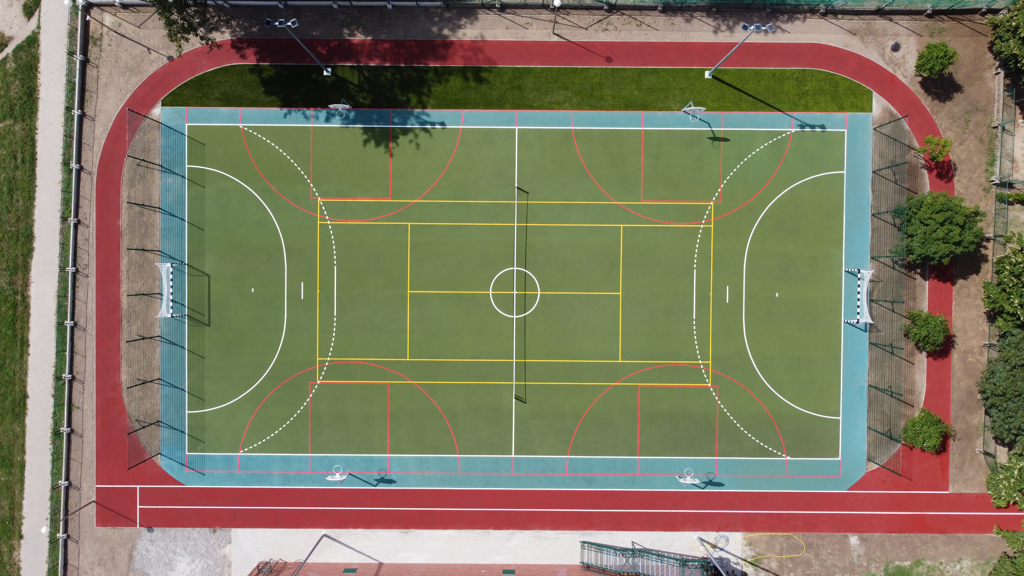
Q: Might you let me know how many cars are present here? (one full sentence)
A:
There are no cars in the image.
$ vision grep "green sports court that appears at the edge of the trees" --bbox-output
[160,92,874,491]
